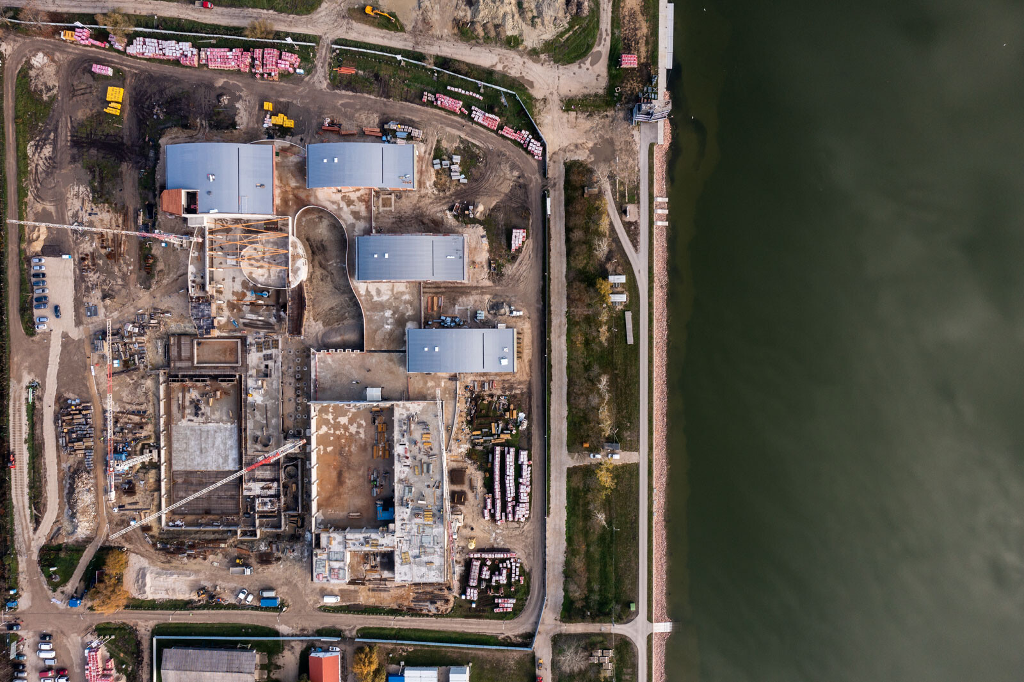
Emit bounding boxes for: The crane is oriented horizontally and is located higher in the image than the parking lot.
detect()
[7,219,203,254]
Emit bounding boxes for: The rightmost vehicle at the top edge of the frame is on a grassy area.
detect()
[364,6,400,24]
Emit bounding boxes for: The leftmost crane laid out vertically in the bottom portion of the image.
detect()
[103,320,161,499]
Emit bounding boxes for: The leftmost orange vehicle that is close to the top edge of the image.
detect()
[58,30,78,42]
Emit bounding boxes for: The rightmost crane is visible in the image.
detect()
[436,388,468,580]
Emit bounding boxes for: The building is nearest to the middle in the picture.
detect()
[406,329,516,373]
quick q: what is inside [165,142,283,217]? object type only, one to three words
building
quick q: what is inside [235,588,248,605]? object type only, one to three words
vehicle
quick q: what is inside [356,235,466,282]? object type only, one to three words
building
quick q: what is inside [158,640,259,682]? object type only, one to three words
shed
